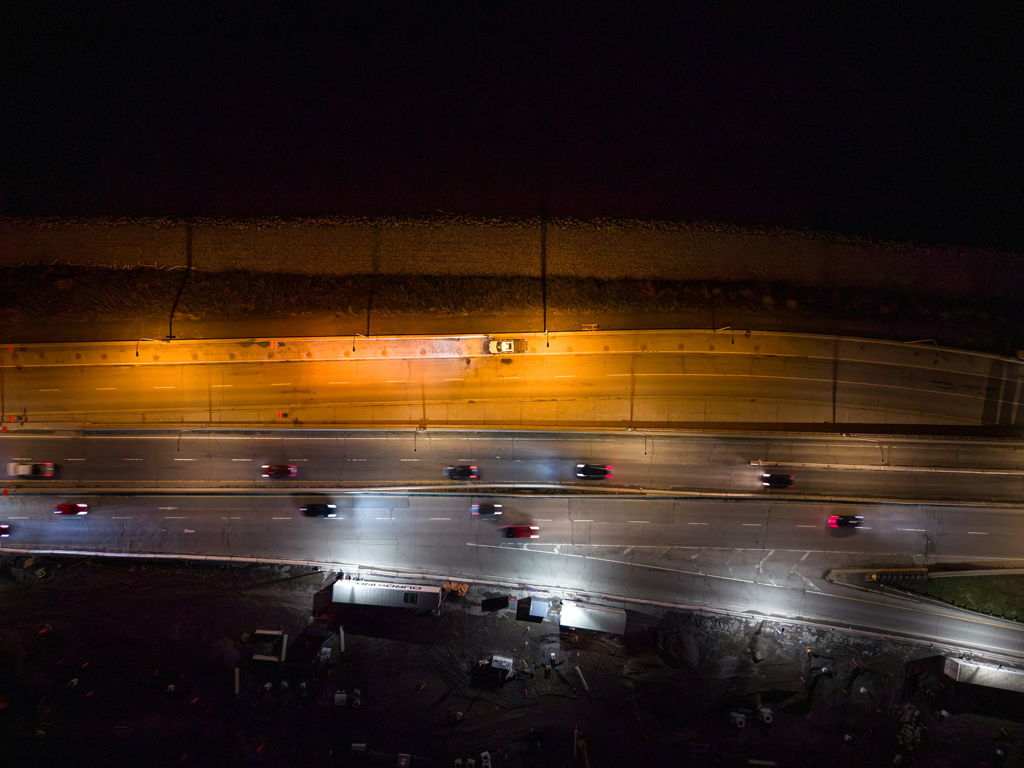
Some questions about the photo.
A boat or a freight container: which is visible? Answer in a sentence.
The image shows a freight container.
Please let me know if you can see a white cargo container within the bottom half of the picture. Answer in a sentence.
Yes, there is a white cargo container within the bottom half of the picture.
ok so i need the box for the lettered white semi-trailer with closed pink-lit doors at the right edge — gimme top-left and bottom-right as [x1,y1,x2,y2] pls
[944,656,1024,692]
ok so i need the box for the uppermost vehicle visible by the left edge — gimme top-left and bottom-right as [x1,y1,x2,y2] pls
[11,463,52,478]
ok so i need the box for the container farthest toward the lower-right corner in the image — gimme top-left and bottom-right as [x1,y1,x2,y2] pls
[558,599,627,634]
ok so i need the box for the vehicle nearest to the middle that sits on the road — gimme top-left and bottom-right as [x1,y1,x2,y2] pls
[489,339,528,355]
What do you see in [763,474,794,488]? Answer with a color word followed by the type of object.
black car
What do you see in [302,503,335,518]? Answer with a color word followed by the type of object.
black car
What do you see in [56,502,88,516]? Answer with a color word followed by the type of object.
red car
